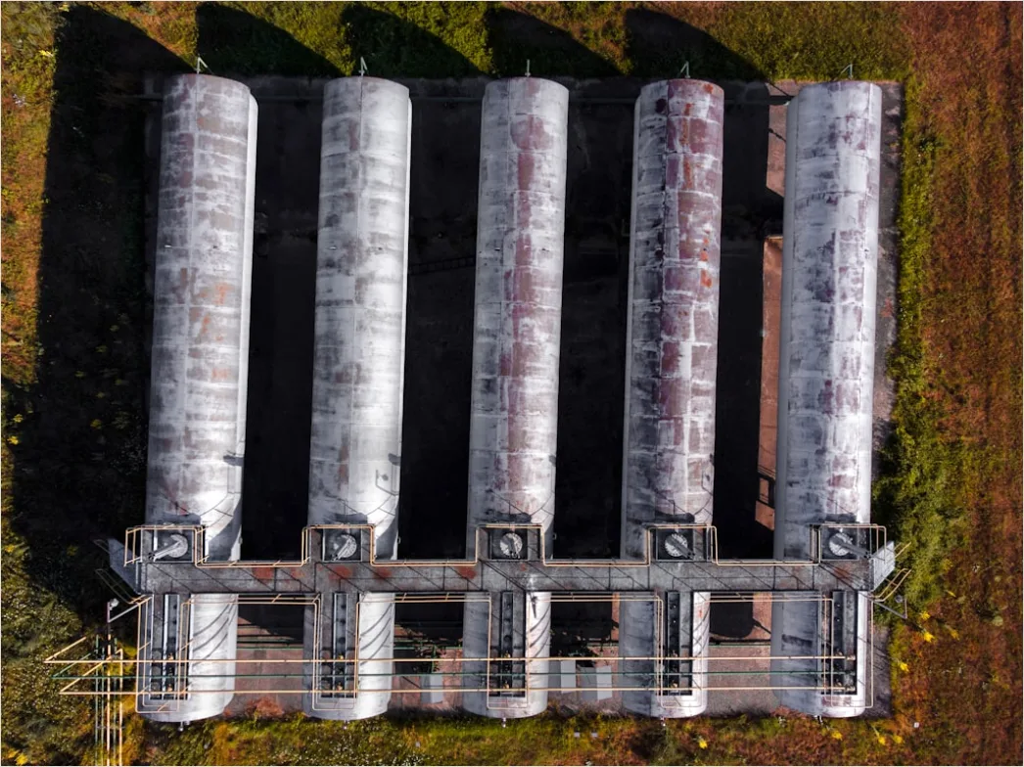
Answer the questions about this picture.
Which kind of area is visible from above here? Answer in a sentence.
The area seen from above is an industrial area.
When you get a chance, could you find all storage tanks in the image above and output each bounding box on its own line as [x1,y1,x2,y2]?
[302,61,413,724]
[131,59,267,725]
[768,65,882,721]
[620,64,725,722]
[461,63,568,723]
